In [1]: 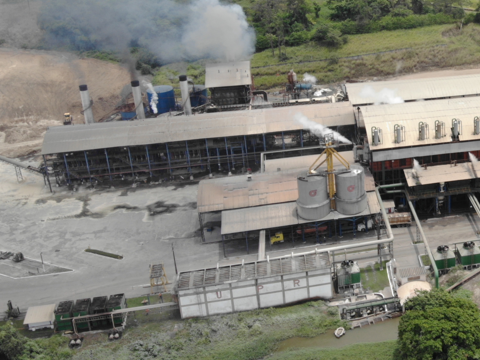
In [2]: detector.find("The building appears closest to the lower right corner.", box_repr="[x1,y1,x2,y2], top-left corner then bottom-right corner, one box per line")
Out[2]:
[397,264,437,321]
